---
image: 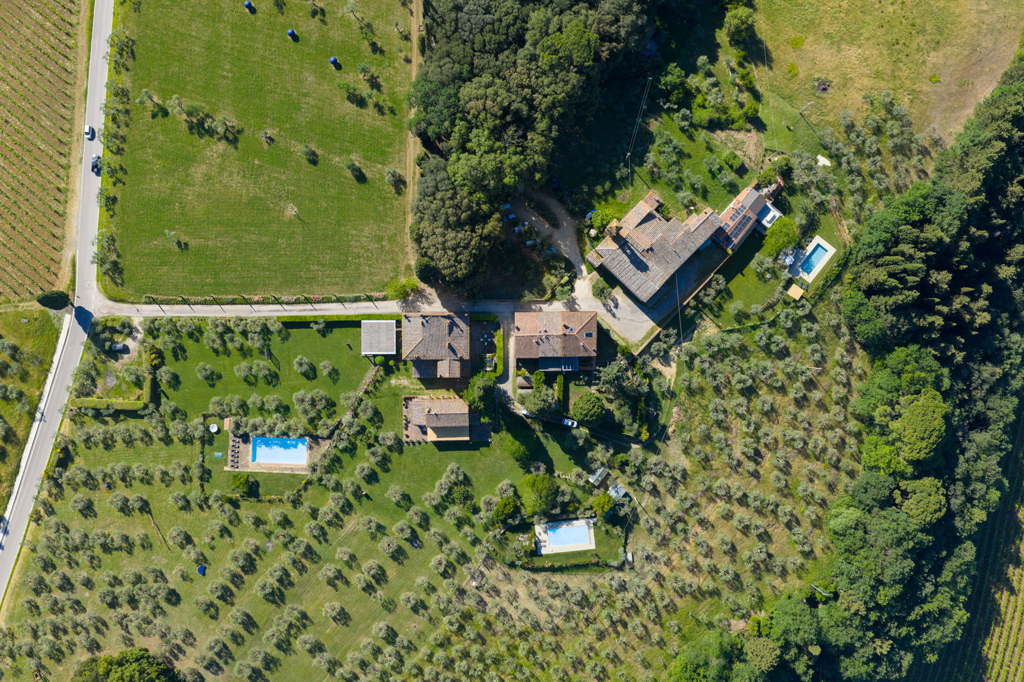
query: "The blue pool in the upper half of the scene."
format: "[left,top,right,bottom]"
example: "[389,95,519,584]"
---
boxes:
[798,242,830,276]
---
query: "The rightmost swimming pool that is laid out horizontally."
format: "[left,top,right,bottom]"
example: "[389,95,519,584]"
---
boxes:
[547,524,591,548]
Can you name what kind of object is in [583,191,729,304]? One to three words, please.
house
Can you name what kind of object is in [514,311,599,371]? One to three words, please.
house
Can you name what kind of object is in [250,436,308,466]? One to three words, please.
swimming pool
